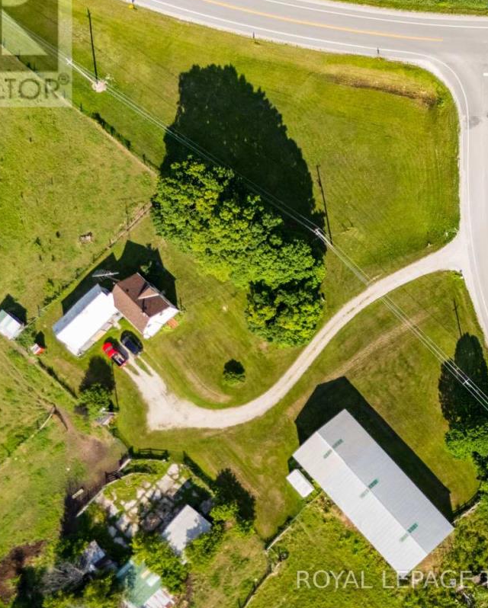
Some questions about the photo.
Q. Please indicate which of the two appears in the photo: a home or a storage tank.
home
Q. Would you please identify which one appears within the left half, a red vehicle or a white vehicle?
red vehicle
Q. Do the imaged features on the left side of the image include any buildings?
Yes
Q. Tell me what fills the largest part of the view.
grass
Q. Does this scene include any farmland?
Yes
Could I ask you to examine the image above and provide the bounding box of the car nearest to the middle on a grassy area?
[120,331,144,357]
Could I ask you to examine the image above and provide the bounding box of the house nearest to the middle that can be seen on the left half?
[111,274,187,333]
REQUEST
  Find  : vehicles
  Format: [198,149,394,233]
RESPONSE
[101,340,129,370]
[120,331,144,357]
